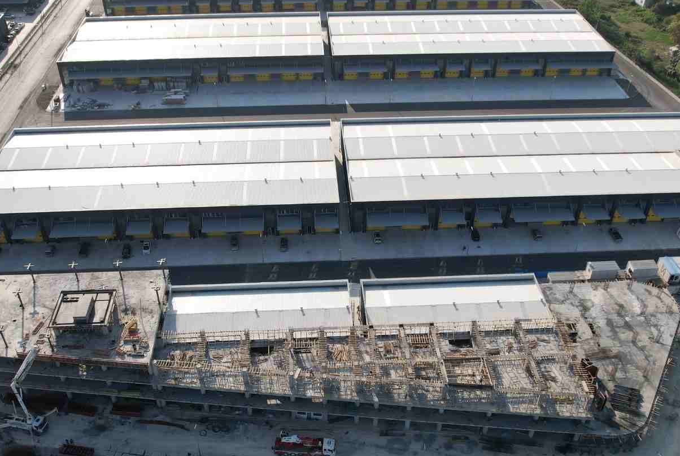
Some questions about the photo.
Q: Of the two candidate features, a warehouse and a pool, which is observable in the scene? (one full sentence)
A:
Visible in the photo is a warehouse.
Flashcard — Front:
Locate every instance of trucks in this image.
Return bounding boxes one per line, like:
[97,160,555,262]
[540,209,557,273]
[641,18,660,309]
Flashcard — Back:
[0,339,54,439]
[272,434,340,456]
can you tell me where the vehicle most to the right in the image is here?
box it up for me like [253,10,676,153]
[606,228,626,241]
